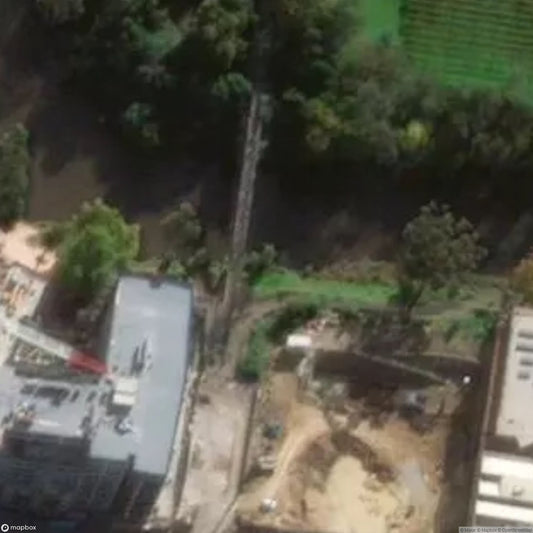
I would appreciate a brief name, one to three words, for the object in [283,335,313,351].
building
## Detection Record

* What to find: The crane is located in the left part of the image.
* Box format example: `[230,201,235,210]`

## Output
[0,315,111,385]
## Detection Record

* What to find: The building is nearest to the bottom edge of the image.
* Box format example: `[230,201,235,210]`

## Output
[465,448,533,533]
